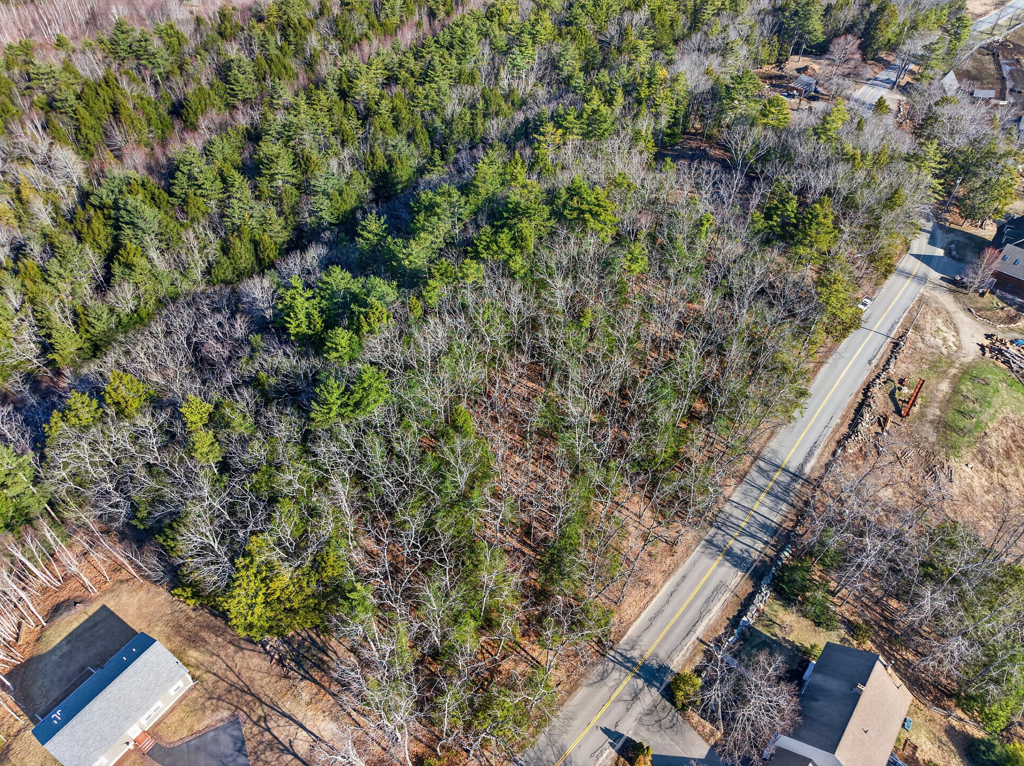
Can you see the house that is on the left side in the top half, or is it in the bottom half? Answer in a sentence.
The house that is on the left side sits in the bottom half of the picture.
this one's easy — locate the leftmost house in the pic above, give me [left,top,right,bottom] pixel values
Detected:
[30,630,202,766]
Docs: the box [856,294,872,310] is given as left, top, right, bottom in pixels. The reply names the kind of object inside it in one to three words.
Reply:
car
